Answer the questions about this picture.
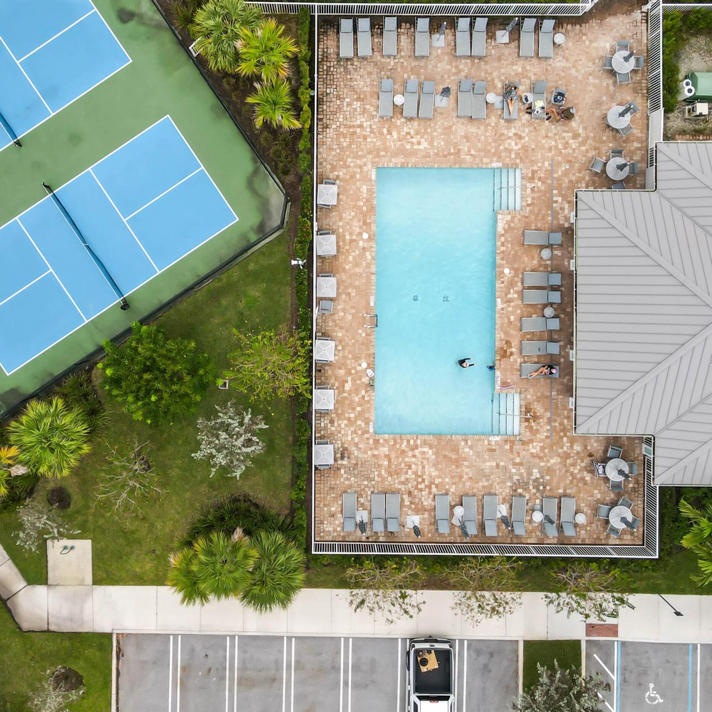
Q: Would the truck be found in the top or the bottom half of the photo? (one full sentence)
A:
It is in the bottom half that the truck appears.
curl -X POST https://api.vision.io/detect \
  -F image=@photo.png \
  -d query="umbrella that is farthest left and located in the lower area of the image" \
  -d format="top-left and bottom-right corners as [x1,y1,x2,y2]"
[357,510,369,535]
